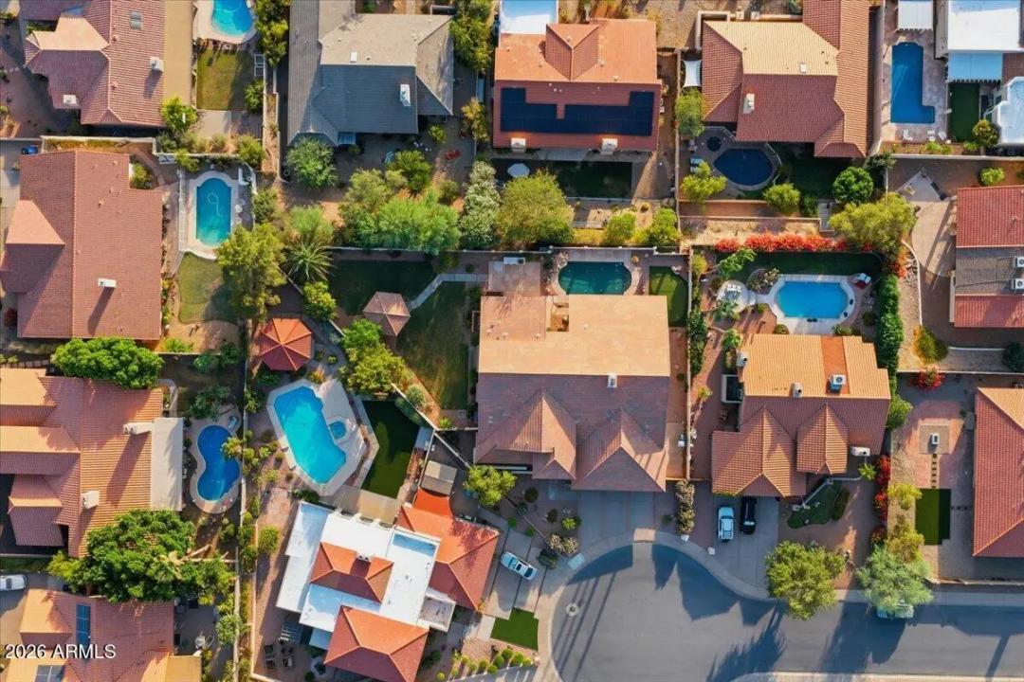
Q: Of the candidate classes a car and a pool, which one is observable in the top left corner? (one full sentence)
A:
It is a pool that can be seen in the top left corner.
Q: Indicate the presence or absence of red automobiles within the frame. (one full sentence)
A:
No, I find no red automobile anywhere in the image.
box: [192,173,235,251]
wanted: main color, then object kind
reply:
blue swimming pool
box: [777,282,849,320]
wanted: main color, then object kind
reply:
blue swimming pool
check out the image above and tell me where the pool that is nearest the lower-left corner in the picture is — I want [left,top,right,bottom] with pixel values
[193,421,243,505]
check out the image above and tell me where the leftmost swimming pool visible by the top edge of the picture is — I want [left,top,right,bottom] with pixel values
[209,0,255,38]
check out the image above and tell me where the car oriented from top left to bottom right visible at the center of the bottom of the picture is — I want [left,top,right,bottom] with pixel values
[499,550,539,582]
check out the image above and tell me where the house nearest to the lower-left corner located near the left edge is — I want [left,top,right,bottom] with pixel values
[3,587,211,682]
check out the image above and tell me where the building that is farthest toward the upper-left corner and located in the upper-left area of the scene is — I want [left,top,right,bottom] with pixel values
[19,0,200,127]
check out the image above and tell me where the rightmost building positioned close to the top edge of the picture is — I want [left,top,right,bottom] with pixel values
[920,0,1024,150]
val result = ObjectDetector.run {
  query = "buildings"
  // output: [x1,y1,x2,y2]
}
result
[421,459,457,496]
[474,256,670,492]
[492,0,661,153]
[937,185,1024,327]
[920,0,1024,150]
[0,369,193,560]
[19,0,200,127]
[3,587,211,682]
[288,0,454,147]
[969,388,1024,556]
[711,334,891,497]
[703,0,869,157]
[277,498,500,682]
[0,150,165,339]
